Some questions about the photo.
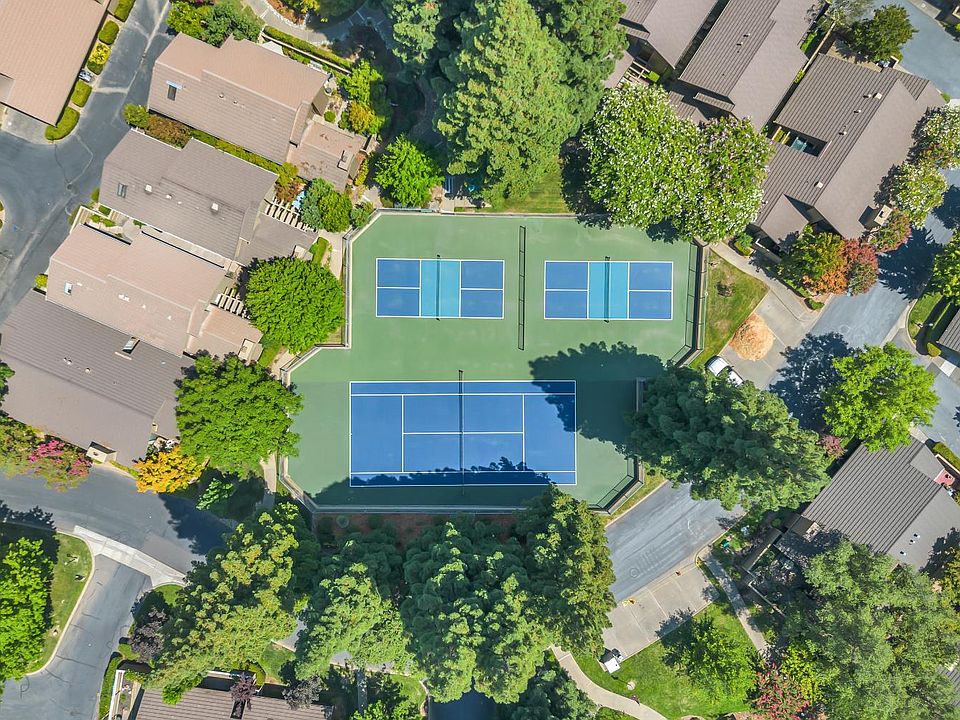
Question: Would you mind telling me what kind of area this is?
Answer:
residential area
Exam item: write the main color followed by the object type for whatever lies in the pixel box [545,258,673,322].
blue sports court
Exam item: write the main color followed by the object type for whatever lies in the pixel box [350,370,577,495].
blue tennis court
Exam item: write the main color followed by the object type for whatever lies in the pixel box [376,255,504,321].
blue sports court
